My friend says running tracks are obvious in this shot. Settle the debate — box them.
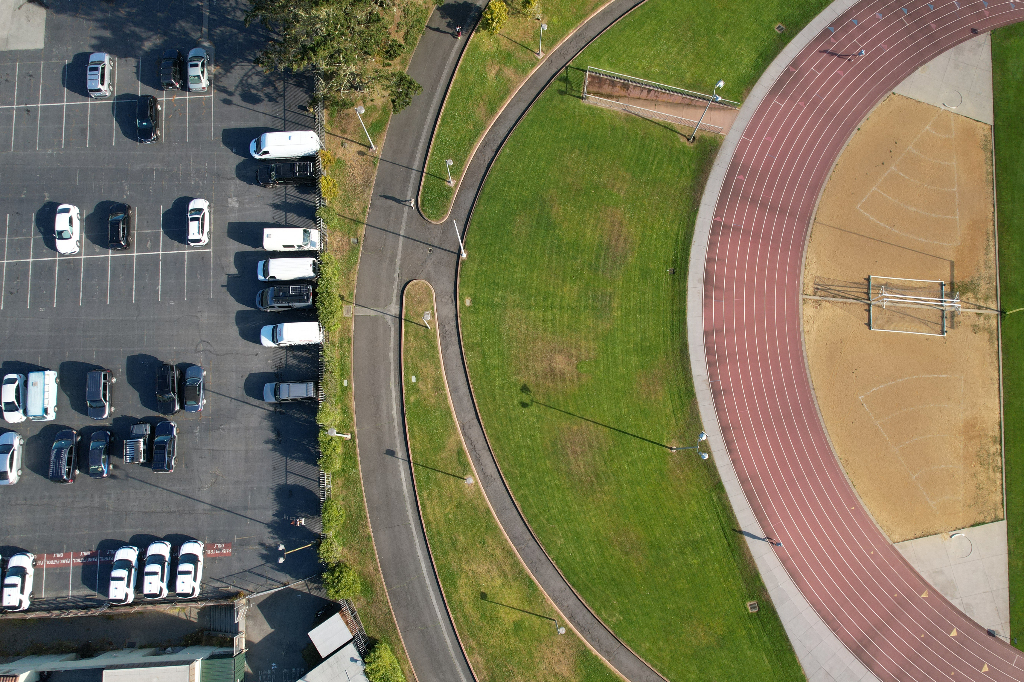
[703,0,1024,682]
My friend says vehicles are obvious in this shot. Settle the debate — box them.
[262,322,327,346]
[187,48,210,94]
[160,49,184,92]
[86,370,114,420]
[258,258,319,282]
[0,373,28,424]
[123,424,154,467]
[142,540,176,600]
[257,285,316,310]
[251,129,326,159]
[154,364,182,415]
[88,430,115,479]
[259,228,322,253]
[26,371,59,421]
[175,539,208,599]
[134,94,161,145]
[264,379,317,403]
[257,161,320,186]
[186,198,211,248]
[108,545,143,605]
[47,429,81,484]
[106,203,133,252]
[0,432,26,486]
[1,551,40,611]
[151,421,180,474]
[54,203,81,255]
[183,365,208,413]
[86,52,112,100]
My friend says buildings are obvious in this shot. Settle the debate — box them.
[309,608,358,658]
[0,641,240,682]
[300,638,379,682]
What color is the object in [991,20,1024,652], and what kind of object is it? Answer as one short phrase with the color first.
green sports field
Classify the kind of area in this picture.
sports ground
